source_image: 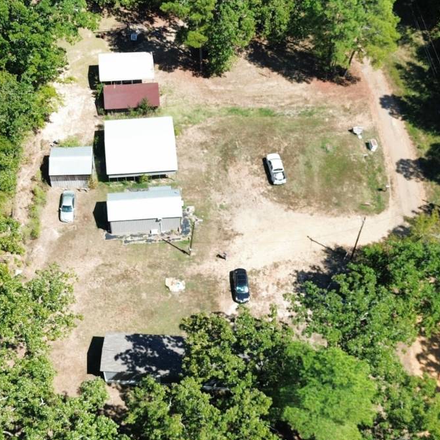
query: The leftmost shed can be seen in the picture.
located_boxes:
[49,149,92,187]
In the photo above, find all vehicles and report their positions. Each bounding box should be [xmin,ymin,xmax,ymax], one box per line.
[230,268,252,305]
[57,191,77,224]
[264,152,290,188]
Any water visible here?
No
